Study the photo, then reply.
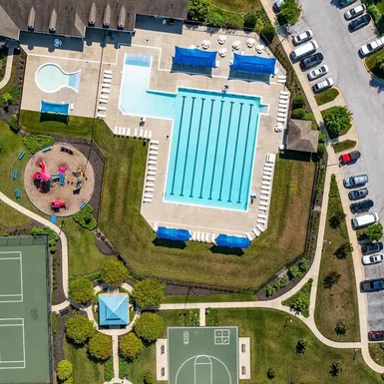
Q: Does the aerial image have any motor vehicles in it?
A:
Yes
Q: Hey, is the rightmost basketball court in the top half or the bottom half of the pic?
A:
bottom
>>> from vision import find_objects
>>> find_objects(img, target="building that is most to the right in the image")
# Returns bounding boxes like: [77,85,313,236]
[283,119,319,152]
